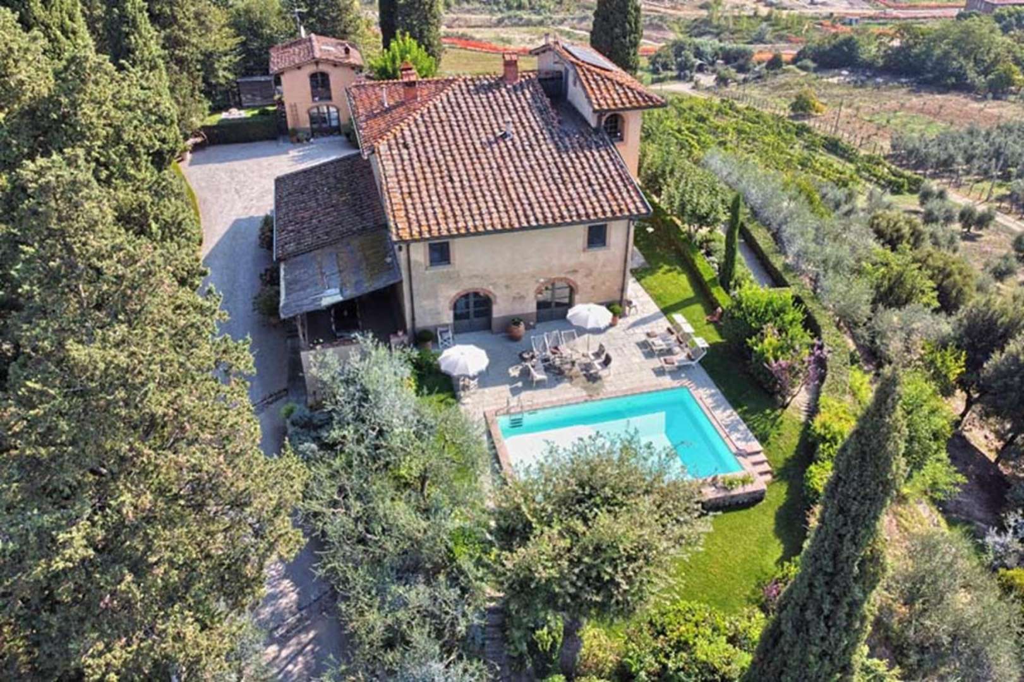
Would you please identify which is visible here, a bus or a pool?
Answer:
pool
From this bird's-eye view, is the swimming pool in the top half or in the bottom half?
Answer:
bottom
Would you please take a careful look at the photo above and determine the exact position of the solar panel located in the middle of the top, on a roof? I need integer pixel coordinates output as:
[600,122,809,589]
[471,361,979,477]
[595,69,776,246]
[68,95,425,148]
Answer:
[558,34,618,65]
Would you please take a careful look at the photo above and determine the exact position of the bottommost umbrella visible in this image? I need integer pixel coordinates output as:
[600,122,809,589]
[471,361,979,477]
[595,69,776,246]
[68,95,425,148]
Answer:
[437,340,492,381]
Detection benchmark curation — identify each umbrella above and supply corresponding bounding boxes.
[437,340,492,381]
[564,300,616,352]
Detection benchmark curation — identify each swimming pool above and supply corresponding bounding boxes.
[483,378,783,540]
